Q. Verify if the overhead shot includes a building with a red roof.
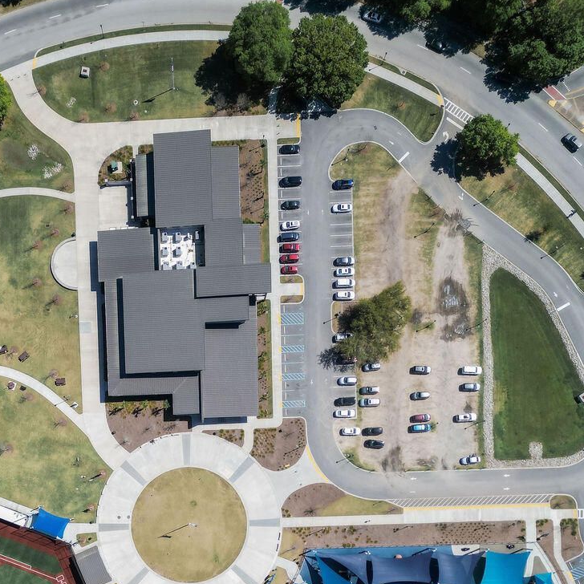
No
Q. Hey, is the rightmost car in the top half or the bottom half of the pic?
top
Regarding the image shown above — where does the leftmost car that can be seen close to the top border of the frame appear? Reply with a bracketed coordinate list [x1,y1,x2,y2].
[363,10,383,27]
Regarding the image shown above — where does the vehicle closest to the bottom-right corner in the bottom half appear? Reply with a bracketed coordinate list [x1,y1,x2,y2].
[459,452,480,465]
